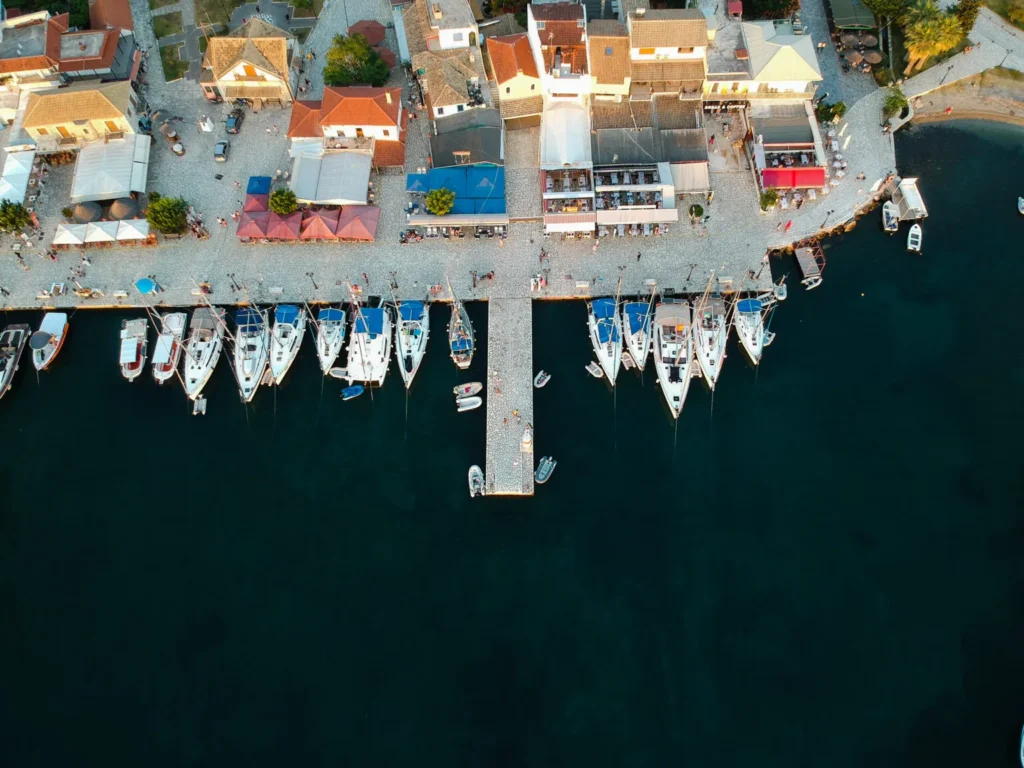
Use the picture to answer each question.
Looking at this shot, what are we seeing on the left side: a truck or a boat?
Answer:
boat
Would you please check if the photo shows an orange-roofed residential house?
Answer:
Yes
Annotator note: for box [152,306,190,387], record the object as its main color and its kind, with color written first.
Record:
white boat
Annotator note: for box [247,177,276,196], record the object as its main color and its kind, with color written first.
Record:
blue tent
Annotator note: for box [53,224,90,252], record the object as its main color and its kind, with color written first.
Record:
white tent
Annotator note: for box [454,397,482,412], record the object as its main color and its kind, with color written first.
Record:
white boat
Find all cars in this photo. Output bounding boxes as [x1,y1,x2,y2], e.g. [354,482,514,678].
[226,112,243,135]
[213,142,228,162]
